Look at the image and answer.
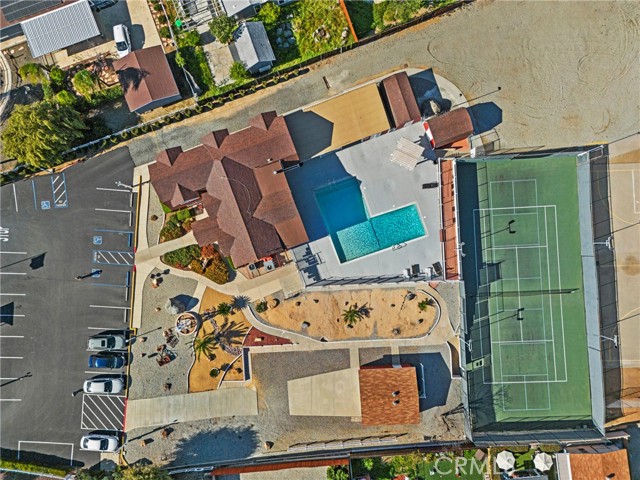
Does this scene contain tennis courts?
Yes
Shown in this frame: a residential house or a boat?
residential house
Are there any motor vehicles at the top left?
Yes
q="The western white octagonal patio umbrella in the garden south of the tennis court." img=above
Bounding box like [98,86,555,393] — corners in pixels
[496,450,515,469]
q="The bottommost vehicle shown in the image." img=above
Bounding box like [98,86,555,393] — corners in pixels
[81,432,120,451]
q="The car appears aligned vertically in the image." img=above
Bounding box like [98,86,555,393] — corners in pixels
[112,22,134,59]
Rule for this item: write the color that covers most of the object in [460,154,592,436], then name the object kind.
green tennis court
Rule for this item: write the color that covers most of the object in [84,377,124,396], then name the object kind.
white car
